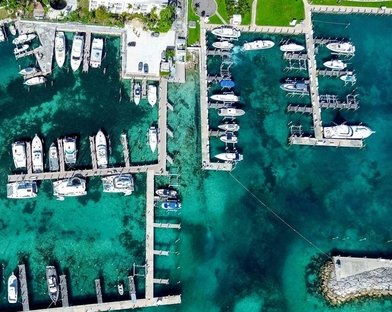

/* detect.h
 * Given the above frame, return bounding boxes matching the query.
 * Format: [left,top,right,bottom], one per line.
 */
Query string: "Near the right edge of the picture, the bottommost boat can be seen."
[321,125,377,139]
